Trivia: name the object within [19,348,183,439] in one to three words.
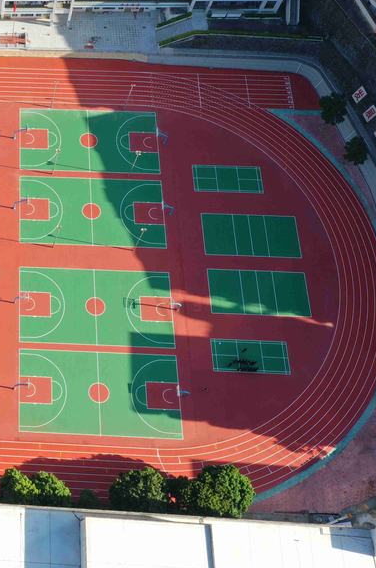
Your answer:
basketball court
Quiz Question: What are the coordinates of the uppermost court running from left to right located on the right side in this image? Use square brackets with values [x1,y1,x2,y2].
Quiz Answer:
[193,165,263,194]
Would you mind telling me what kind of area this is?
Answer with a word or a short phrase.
sports ground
